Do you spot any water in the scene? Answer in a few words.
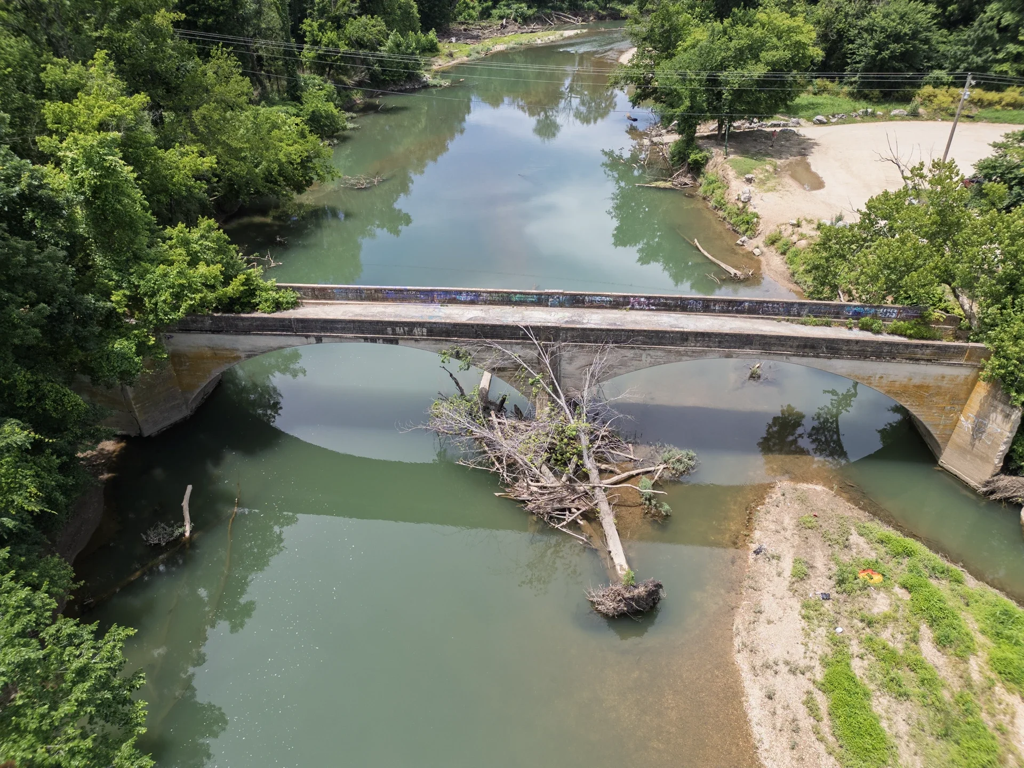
Yes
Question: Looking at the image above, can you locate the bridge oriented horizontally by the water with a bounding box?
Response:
[125,281,1024,485]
